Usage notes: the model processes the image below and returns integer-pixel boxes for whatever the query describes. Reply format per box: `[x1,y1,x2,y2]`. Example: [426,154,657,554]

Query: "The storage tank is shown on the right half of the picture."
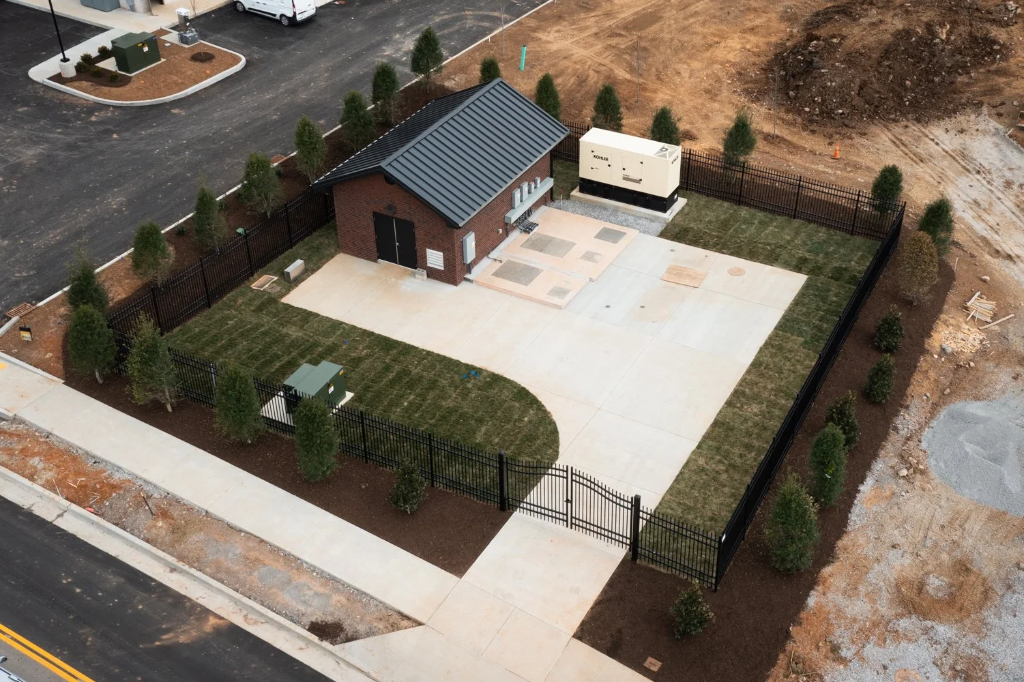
[579,178,681,212]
